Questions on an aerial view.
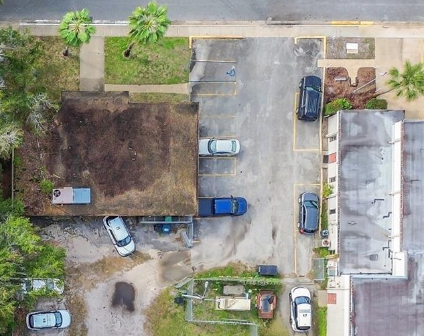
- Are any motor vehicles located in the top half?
Yes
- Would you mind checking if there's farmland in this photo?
No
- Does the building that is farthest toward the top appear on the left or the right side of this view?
left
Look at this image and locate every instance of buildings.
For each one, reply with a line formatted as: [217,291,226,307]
[325,109,424,336]
[19,91,199,216]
